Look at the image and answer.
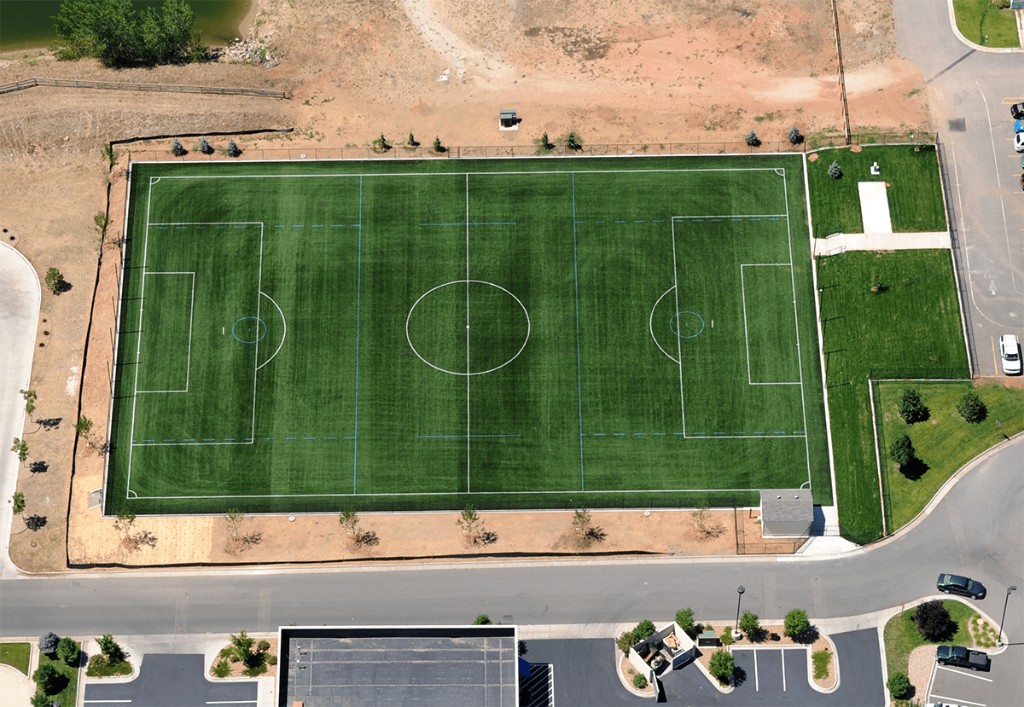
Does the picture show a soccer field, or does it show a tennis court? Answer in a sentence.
The image shows a soccer field.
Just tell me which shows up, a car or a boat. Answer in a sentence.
The one in the frame is a car.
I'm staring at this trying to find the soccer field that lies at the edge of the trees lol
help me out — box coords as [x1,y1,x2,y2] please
[104,153,834,515]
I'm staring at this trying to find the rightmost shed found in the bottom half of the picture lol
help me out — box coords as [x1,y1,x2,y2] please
[760,490,813,536]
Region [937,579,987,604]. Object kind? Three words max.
car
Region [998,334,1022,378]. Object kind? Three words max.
car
